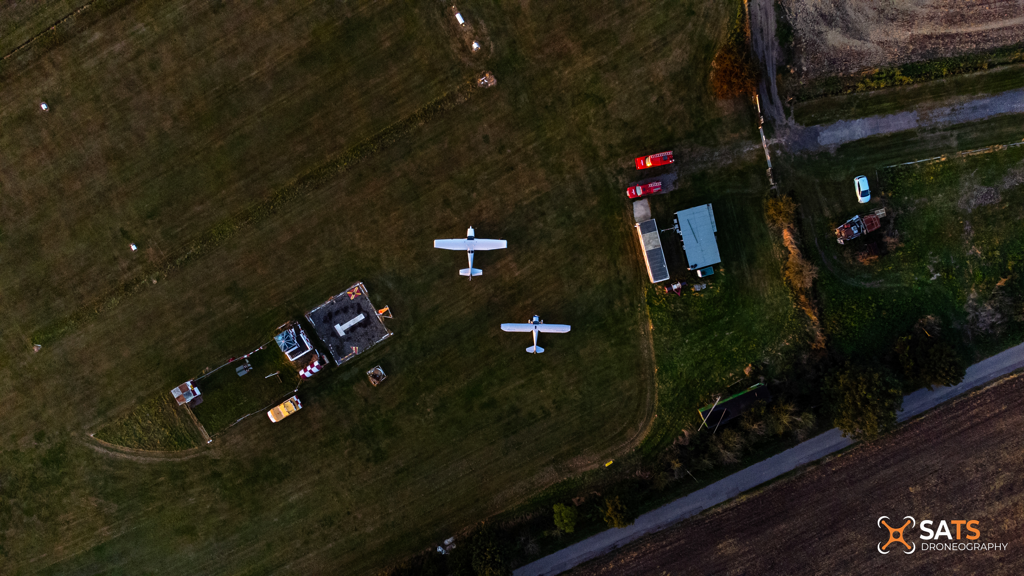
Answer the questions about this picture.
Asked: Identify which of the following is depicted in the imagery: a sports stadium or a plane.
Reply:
plane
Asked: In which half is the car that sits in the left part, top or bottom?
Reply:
bottom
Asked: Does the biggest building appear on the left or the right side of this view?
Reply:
right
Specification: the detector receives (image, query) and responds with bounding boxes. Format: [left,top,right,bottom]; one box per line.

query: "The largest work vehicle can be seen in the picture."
[833,215,880,243]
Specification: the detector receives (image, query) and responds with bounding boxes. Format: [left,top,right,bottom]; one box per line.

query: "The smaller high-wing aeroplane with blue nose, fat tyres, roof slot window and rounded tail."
[501,315,571,352]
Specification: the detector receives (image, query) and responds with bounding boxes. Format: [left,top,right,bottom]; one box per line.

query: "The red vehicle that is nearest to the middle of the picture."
[626,181,662,198]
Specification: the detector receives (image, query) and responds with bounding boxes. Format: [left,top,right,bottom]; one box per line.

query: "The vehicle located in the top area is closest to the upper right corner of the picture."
[852,176,870,204]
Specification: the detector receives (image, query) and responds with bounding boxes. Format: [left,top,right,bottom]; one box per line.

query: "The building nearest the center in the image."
[636,219,670,283]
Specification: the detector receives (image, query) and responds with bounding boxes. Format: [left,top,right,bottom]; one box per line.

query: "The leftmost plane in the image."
[434,226,507,281]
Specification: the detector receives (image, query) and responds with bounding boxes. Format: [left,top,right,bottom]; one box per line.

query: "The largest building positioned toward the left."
[273,321,318,361]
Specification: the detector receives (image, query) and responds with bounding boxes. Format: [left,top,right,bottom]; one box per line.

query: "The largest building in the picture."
[674,204,721,271]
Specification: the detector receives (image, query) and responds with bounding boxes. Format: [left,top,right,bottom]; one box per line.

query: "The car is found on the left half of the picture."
[268,395,304,422]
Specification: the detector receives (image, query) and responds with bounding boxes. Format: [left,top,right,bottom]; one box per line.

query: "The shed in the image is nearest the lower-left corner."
[170,380,202,406]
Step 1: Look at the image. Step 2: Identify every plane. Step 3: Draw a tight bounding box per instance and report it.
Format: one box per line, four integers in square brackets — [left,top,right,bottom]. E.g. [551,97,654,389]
[434,226,507,281]
[501,315,571,352]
